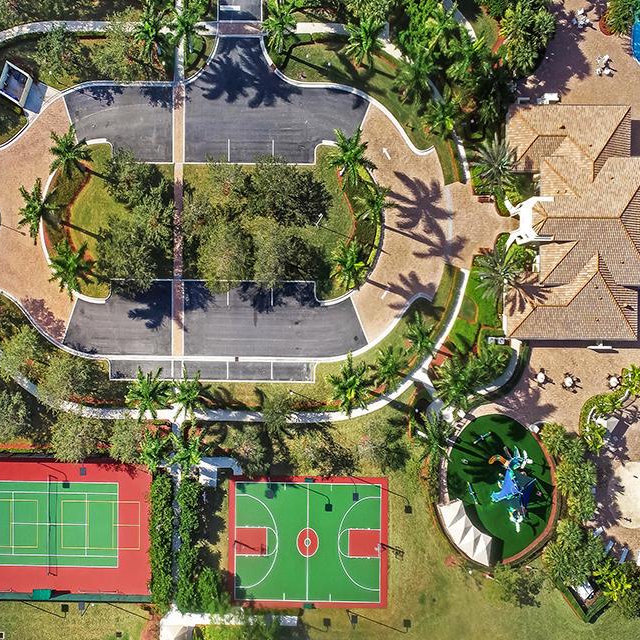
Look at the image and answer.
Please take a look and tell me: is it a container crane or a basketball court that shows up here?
basketball court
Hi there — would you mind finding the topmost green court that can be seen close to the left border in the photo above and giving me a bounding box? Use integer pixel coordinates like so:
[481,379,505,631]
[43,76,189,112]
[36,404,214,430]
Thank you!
[0,462,148,594]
